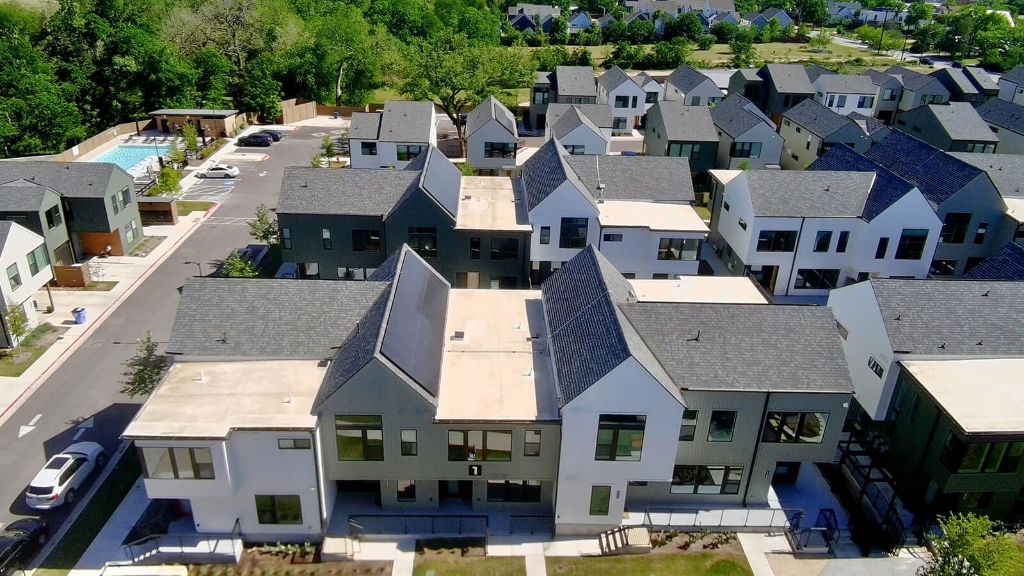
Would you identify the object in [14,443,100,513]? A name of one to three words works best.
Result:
car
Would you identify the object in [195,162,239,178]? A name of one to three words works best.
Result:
car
